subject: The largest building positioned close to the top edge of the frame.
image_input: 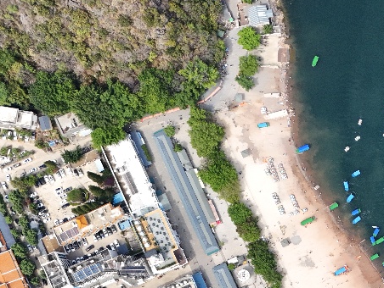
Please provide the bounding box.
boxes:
[238,3,275,26]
